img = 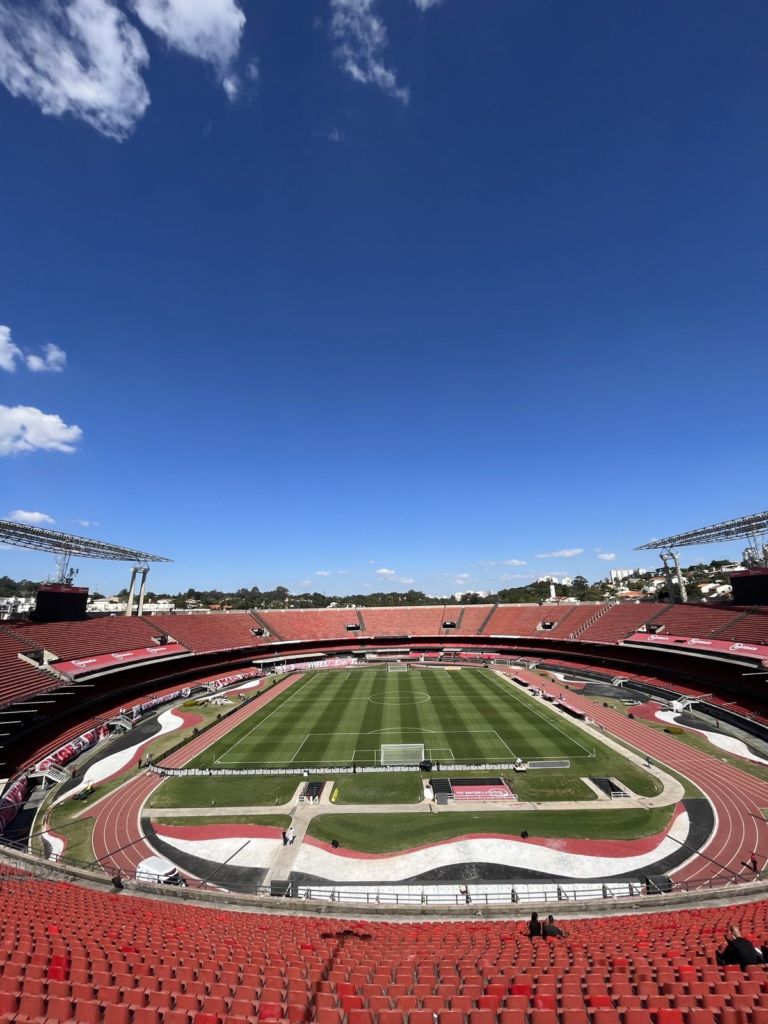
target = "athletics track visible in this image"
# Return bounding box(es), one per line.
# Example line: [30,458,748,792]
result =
[65,660,768,892]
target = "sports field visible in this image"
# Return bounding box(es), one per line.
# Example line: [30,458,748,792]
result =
[194,669,625,769]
